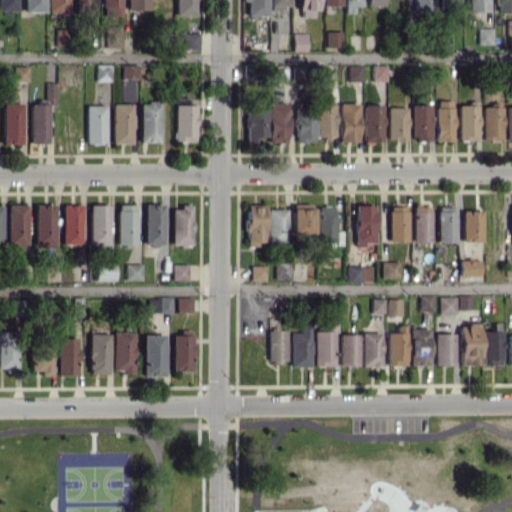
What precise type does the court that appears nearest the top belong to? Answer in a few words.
basketball court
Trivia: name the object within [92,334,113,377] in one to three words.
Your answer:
house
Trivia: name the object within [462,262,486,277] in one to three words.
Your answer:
building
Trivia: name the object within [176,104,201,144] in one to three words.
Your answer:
house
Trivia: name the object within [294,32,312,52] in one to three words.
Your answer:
building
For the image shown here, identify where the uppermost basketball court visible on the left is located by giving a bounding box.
[58,453,132,505]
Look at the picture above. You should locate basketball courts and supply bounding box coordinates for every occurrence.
[58,453,132,505]
[58,505,132,512]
